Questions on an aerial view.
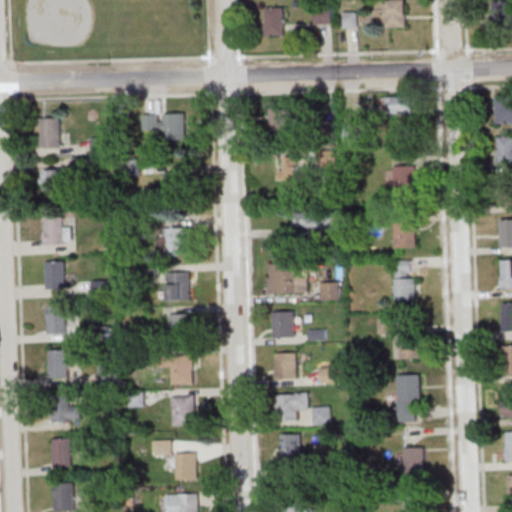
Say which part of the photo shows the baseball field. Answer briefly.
top left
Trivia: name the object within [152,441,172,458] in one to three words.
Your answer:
building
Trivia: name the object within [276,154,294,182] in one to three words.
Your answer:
house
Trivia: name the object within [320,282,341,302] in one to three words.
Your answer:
building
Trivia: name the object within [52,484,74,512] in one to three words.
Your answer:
house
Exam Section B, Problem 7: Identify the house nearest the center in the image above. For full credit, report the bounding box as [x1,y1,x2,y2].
[266,264,308,295]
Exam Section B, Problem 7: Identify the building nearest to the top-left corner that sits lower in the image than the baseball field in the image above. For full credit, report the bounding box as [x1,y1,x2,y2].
[38,118,60,148]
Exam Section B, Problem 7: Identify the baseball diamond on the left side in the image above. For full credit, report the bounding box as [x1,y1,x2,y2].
[14,0,206,60]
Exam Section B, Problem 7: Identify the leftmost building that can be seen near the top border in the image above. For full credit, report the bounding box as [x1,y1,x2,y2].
[263,8,284,36]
